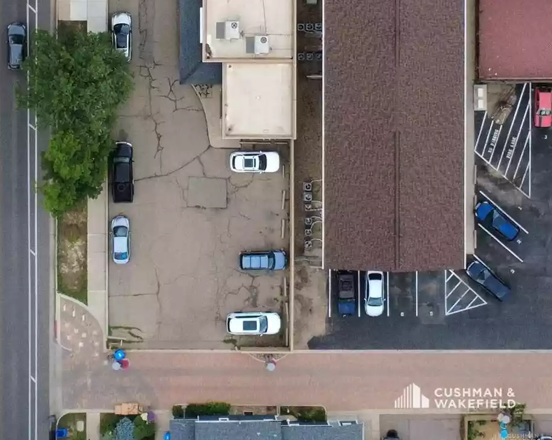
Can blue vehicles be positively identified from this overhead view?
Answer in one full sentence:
Yes, there is a blue vehicle in the image.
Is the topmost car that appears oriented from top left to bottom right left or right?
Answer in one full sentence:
The topmost car that appears oriented from top left to bottom right is on the right side of the image.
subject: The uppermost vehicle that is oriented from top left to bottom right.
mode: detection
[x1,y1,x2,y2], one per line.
[472,200,523,242]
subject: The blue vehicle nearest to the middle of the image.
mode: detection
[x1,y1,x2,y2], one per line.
[237,248,288,273]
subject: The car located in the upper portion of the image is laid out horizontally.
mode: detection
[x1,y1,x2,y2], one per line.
[228,150,281,175]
